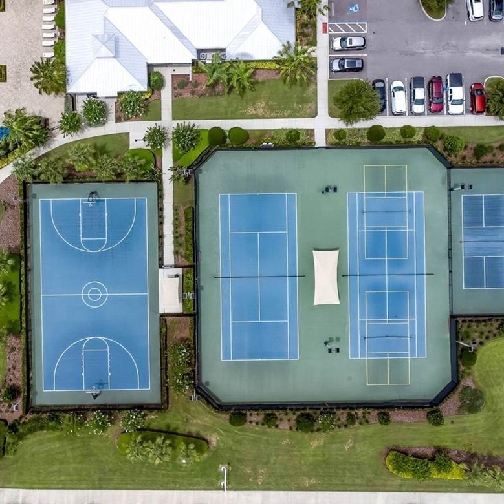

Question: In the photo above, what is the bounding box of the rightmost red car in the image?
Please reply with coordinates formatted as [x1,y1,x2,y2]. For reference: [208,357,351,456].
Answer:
[469,83,486,115]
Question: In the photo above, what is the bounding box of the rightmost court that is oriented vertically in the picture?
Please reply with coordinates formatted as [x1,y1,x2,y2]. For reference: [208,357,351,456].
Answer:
[460,195,504,289]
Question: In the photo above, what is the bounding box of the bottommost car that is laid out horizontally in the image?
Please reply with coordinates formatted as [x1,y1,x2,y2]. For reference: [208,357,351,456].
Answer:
[329,57,364,73]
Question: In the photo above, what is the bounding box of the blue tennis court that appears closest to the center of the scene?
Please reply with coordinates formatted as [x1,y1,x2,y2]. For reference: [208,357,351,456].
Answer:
[214,193,305,362]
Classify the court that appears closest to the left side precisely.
basketball court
